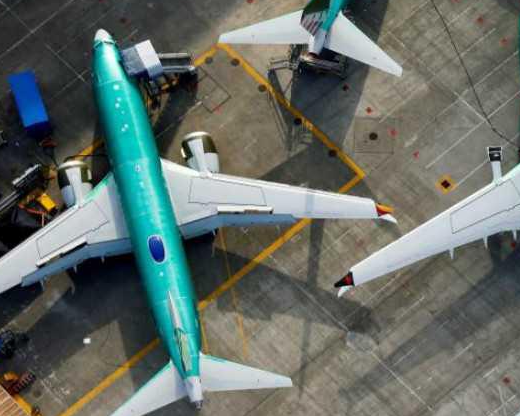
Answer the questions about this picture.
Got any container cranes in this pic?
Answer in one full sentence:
No, there isn't any container crane down there.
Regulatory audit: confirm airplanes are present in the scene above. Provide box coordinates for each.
[218,0,402,78]
[0,28,398,416]
[335,143,520,301]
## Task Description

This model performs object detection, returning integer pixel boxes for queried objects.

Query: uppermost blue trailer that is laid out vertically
[8,69,51,156]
